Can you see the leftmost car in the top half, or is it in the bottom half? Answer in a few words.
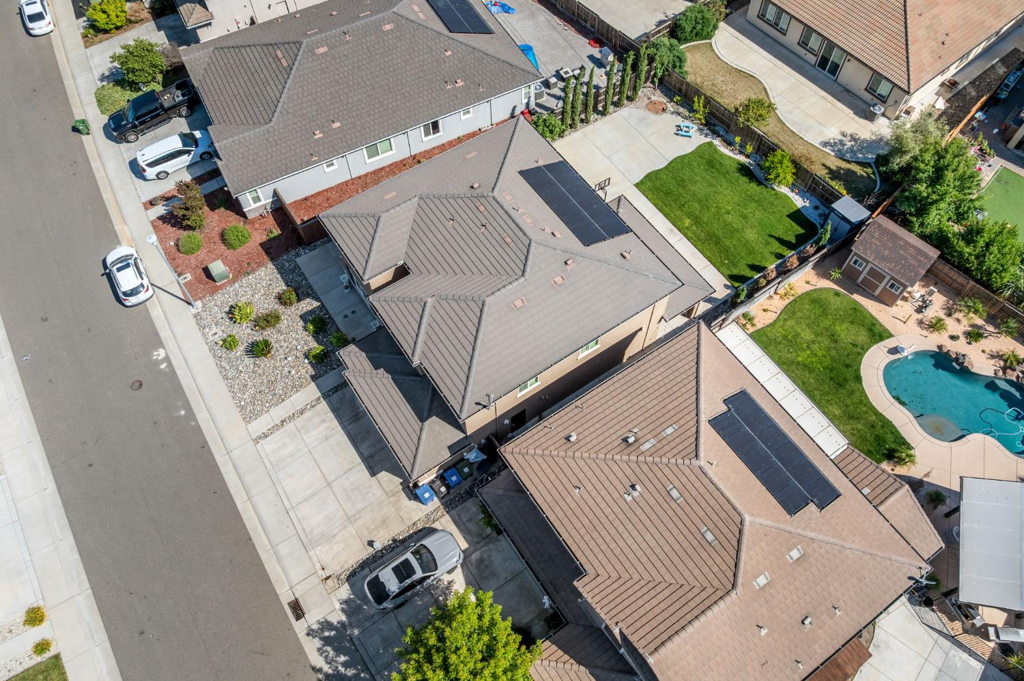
top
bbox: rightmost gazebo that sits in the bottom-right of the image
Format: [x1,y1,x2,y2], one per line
[936,479,1024,613]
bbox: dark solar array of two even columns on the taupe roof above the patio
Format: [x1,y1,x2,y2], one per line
[516,160,628,246]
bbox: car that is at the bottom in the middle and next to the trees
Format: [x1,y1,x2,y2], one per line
[362,535,468,606]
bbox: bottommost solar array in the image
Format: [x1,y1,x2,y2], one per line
[707,388,843,514]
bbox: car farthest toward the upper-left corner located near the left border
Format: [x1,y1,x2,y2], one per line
[18,0,57,37]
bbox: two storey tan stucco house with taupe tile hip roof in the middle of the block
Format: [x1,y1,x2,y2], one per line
[316,115,718,490]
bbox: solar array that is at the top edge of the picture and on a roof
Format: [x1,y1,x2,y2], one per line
[429,0,496,32]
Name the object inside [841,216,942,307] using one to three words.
shed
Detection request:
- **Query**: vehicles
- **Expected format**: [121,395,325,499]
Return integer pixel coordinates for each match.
[102,79,199,142]
[18,0,57,37]
[362,535,468,606]
[129,129,216,180]
[107,248,159,315]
